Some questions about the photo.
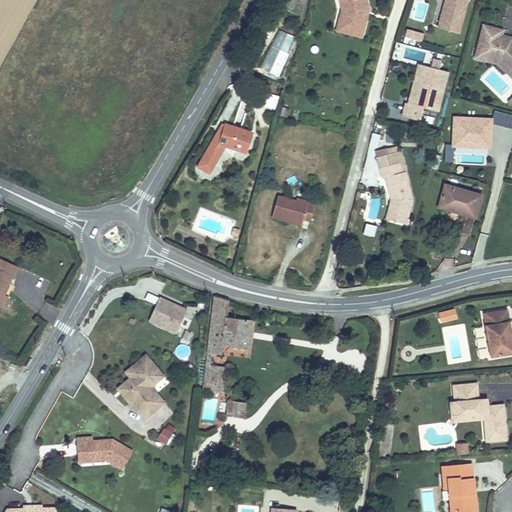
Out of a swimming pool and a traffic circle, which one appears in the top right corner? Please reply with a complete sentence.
The one visible in the top right corner is a swimming pool.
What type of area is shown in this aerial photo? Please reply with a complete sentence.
This looks like a residential area.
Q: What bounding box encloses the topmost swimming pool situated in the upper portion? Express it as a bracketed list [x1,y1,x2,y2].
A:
[409,0,430,22]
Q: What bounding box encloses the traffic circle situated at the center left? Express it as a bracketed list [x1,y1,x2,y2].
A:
[82,206,150,272]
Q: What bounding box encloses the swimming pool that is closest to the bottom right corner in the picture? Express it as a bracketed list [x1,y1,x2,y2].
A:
[420,488,442,512]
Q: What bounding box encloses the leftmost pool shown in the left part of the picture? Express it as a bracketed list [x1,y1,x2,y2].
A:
[174,343,192,361]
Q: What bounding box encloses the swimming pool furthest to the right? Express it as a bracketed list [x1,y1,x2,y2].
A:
[480,66,512,103]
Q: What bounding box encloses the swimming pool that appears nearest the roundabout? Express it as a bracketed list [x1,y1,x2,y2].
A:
[192,207,236,242]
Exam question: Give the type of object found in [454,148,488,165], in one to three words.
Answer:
swimming pool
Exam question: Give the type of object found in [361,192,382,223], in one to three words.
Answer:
swimming pool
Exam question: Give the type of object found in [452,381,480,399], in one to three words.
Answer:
building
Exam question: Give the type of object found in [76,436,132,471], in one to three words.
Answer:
house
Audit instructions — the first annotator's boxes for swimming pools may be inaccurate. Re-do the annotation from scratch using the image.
[238,505,260,512]
[480,66,512,103]
[409,0,430,22]
[454,148,488,165]
[442,324,471,365]
[392,43,433,64]
[361,192,382,223]
[418,419,458,450]
[420,488,442,512]
[192,207,236,242]
[199,396,226,429]
[174,343,192,361]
